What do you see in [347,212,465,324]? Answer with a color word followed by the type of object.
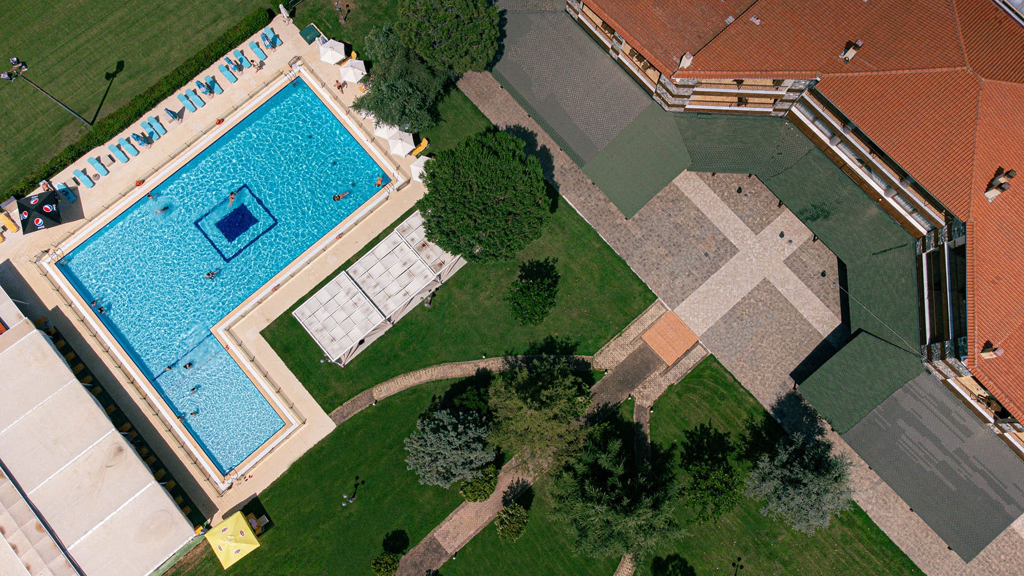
white gazebo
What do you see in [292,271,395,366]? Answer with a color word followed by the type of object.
white gazebo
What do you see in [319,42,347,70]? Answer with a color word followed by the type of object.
white umbrella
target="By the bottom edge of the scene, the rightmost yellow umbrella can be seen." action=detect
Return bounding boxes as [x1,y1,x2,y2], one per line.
[205,510,261,569]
